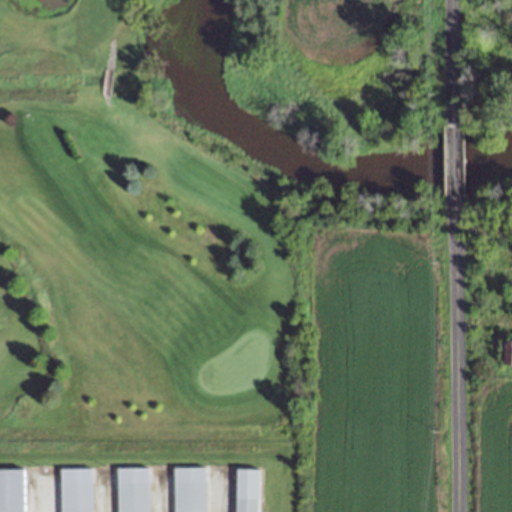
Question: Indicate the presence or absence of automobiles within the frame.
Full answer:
No, there appears to be no automobile in this shot.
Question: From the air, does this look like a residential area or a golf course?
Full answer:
The picture captures a golf course.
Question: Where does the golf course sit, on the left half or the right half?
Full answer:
The golf course appears in the left half of the scene.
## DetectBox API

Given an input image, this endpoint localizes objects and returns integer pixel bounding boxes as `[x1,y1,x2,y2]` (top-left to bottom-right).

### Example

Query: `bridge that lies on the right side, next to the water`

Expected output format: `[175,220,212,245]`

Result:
[444,124,468,196]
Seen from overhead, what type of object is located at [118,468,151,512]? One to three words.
building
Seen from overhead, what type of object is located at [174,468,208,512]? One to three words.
building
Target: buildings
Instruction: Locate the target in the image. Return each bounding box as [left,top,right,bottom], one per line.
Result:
[0,468,24,512]
[504,342,512,364]
[118,468,151,512]
[60,468,95,512]
[236,468,261,512]
[174,468,208,512]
